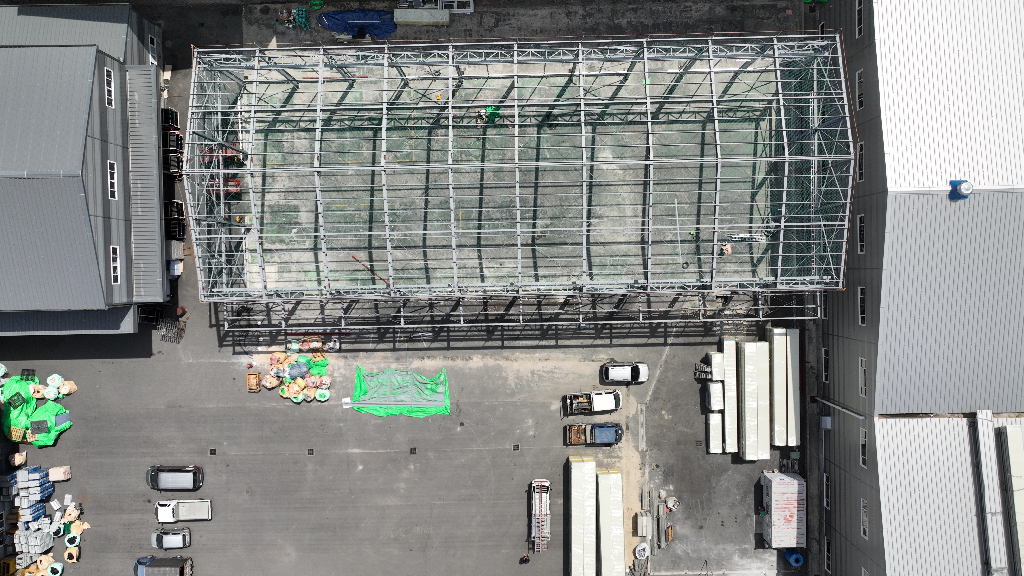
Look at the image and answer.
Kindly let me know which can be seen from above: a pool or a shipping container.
shipping container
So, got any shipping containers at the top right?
No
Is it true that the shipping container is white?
Yes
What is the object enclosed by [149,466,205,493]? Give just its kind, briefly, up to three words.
car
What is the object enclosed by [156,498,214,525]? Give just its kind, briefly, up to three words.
truck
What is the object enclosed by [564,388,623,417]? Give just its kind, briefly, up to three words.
truck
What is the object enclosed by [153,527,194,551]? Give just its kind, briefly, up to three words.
car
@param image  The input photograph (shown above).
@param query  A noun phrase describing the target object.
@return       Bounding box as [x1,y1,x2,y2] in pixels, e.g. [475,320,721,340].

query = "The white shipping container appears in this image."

[763,471,807,549]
